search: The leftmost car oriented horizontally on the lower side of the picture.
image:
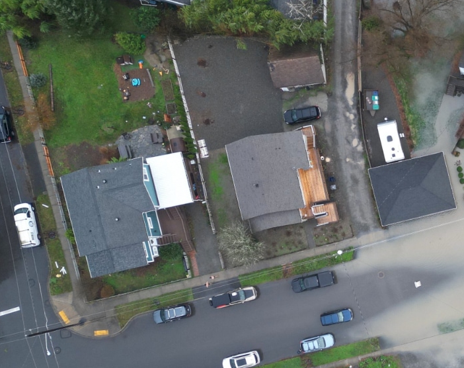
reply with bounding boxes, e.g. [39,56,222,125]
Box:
[153,302,194,324]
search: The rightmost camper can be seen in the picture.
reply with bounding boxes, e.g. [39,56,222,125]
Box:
[378,116,404,162]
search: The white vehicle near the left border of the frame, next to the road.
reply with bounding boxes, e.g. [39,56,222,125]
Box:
[13,203,43,246]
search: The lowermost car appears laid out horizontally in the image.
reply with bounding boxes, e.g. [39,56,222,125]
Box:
[221,348,264,368]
